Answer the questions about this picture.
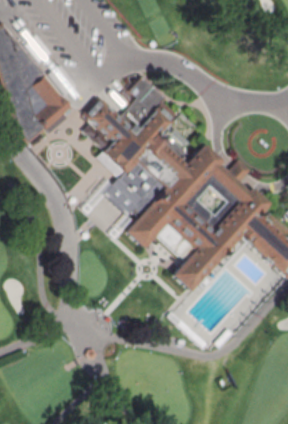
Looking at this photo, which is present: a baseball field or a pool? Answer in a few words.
pool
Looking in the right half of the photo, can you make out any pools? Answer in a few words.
Yes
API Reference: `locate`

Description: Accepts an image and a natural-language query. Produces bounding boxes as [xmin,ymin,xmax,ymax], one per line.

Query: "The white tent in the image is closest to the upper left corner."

[20,24,52,62]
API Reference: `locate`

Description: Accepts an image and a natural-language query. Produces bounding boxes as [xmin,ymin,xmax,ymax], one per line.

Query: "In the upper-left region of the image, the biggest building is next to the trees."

[28,77,70,134]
